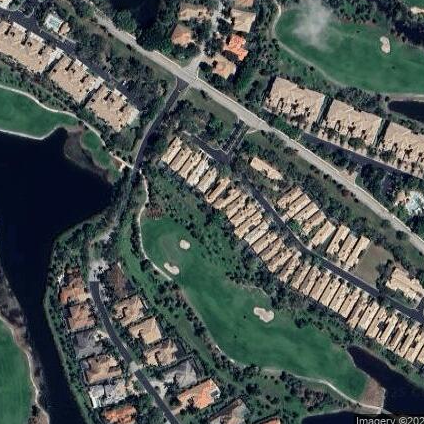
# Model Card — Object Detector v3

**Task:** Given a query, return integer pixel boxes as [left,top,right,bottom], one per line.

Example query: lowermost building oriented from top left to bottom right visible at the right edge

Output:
[387,268,424,300]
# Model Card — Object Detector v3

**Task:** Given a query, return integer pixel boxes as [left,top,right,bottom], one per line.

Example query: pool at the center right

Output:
[403,191,424,213]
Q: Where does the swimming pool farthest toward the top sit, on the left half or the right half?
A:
left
